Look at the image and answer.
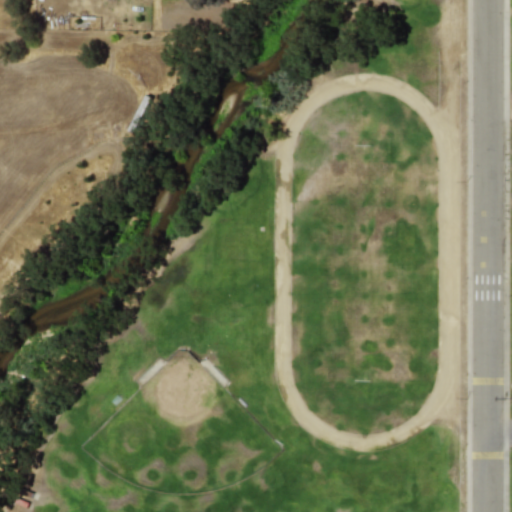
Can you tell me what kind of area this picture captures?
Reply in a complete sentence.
This image shows a sports ground.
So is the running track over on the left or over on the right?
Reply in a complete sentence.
The running track appears in the right half of the scene.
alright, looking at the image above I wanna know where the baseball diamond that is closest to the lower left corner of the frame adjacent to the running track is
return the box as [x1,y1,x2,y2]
[83,350,283,494]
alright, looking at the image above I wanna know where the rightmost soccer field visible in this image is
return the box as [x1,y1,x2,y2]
[292,91,438,436]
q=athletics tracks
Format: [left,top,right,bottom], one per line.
[275,74,460,452]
